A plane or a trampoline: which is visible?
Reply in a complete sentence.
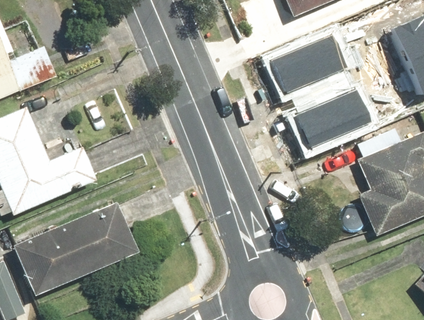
Looking from above, you can make out a trampoline.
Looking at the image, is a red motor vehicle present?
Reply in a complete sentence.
Yes, there's a red motor vehicle here.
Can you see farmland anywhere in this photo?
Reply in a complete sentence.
No, the scene doesn't show any farmland.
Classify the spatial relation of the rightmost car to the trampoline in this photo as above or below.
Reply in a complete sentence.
Looking at the scene, the rightmost car is located above the trampoline.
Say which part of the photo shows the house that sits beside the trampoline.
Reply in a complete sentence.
The house that sits beside the trampoline is in the right part of the image.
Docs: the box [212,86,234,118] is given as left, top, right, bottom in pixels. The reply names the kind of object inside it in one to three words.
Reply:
car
